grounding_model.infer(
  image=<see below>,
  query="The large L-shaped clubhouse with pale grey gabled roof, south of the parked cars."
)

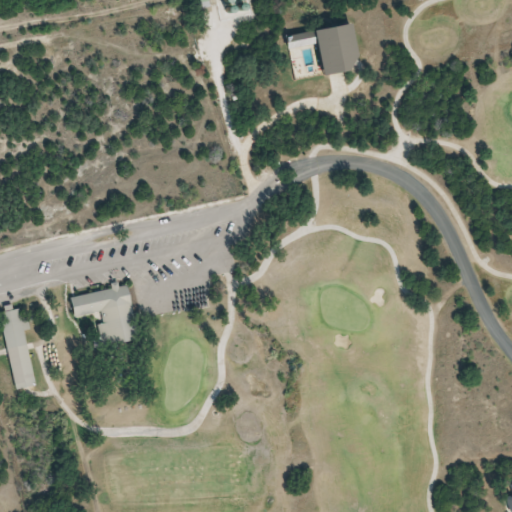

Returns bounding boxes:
[70,282,132,343]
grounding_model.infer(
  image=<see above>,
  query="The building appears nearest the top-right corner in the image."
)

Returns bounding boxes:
[317,24,359,75]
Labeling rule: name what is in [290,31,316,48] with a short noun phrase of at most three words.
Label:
building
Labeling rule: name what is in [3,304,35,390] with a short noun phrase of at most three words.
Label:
barn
